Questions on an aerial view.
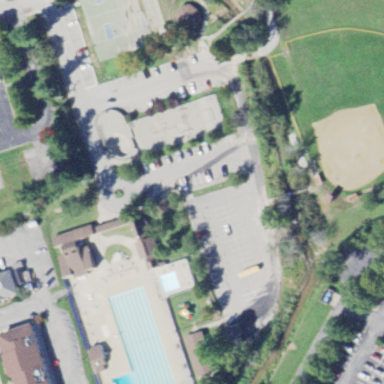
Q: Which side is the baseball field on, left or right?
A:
right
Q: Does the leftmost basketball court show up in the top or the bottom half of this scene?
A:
top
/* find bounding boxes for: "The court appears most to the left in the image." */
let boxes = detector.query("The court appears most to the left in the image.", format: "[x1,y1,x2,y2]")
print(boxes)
[81,0,137,64]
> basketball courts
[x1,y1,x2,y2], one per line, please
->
[120,0,165,50]
[81,0,137,64]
